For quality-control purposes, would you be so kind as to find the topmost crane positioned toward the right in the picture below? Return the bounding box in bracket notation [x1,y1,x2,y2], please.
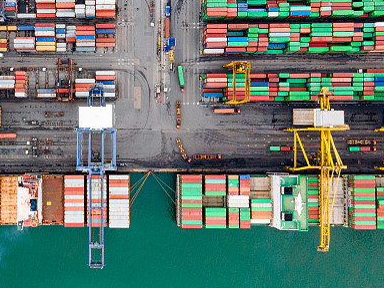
[220,61,250,104]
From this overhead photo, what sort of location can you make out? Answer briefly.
port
